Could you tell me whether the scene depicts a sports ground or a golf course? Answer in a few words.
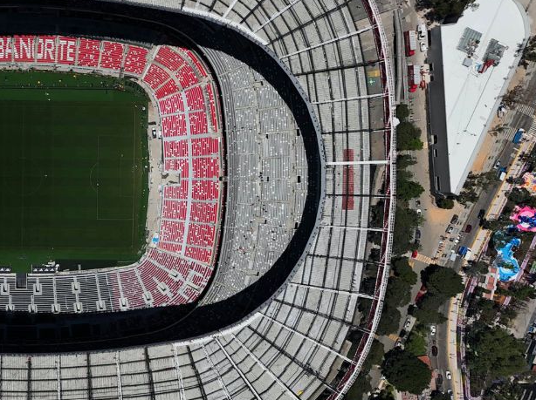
sports ground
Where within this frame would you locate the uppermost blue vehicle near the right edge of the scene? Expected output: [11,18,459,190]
[512,128,526,144]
